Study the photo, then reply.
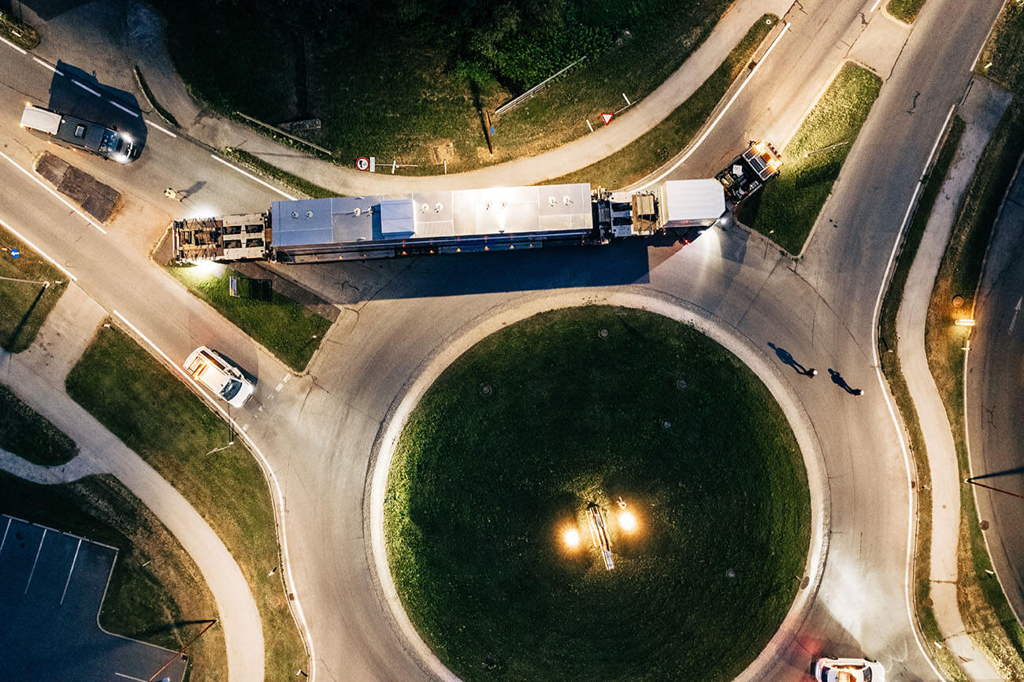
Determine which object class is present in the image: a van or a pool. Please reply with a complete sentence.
There is a van in the scene.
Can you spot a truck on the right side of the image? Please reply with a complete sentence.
Yes, looking on the right side of the image, one can make out a truck.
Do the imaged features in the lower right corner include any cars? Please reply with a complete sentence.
Yes, I can see a car in the lower right corner.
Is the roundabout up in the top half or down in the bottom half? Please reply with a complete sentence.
The roundabout sits in the bottom half of the picture.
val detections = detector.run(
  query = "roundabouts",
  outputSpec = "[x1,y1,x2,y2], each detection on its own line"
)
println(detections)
[284,206,910,682]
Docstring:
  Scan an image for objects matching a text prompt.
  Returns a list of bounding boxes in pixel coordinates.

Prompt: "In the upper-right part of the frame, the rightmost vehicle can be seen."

[713,127,799,213]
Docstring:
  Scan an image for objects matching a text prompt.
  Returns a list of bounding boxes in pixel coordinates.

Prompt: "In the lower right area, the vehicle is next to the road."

[810,652,883,682]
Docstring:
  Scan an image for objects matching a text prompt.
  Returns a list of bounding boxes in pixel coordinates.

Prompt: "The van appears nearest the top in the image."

[10,94,140,161]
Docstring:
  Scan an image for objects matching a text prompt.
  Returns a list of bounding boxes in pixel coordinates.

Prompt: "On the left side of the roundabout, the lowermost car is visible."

[185,346,251,405]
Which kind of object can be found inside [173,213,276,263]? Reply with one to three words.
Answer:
trailer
